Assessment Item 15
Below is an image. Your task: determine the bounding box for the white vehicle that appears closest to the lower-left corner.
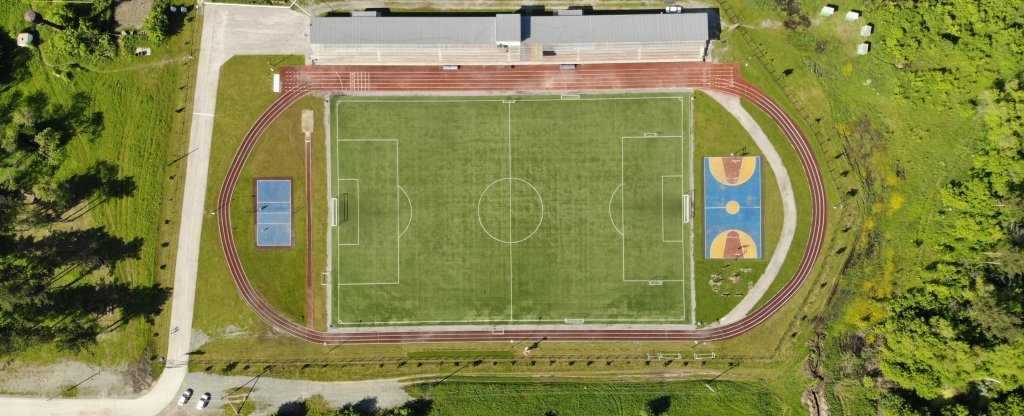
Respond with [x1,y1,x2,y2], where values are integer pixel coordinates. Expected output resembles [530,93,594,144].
[176,390,190,406]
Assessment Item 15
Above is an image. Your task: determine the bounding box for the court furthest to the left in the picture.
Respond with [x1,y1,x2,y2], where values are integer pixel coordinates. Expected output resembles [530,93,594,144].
[254,178,295,250]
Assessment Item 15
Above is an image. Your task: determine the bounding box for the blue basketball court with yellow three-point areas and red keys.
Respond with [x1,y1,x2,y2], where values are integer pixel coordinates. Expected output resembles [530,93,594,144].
[702,155,764,261]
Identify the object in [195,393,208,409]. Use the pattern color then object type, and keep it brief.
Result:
white vehicle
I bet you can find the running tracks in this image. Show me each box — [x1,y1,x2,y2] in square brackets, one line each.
[217,62,827,345]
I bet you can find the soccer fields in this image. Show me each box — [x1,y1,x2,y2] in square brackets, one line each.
[330,92,692,327]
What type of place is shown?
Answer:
sports ground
